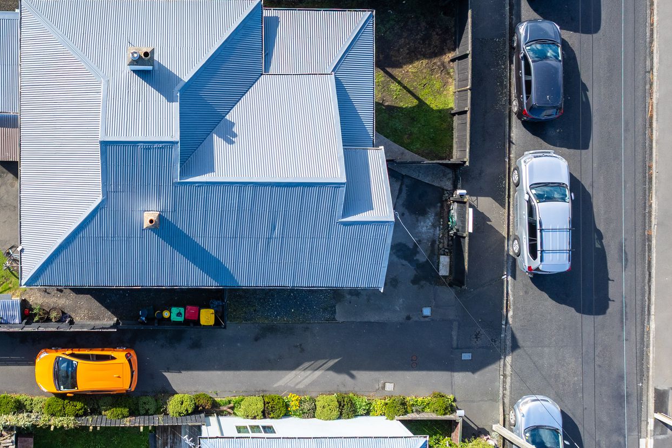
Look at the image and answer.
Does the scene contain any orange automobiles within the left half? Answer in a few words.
Yes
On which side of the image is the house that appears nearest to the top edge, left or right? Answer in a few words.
left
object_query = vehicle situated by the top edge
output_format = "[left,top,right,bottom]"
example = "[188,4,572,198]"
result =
[506,20,567,122]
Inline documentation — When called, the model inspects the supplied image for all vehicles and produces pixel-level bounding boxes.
[508,152,580,272]
[506,20,567,122]
[504,392,565,448]
[36,344,138,400]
